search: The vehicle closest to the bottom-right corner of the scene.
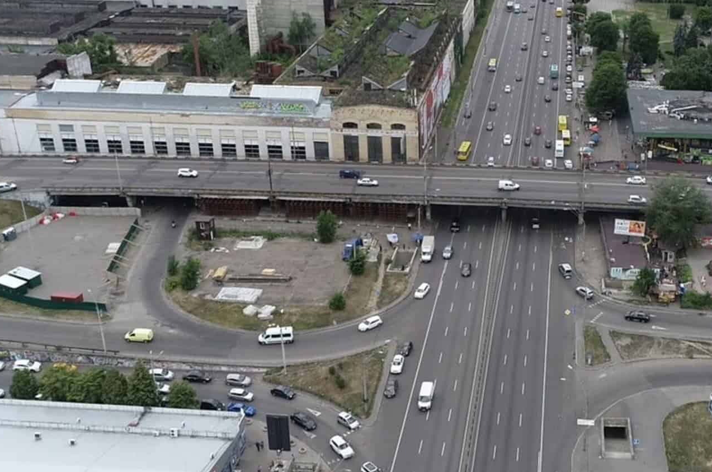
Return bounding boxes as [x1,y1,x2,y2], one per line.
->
[625,310,649,323]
